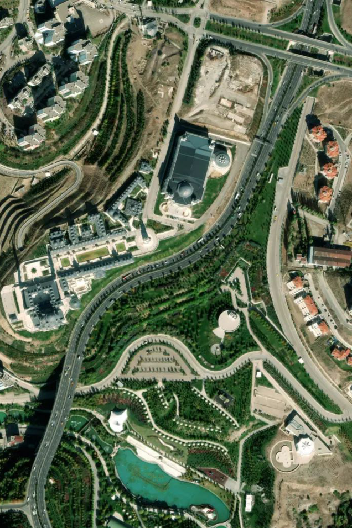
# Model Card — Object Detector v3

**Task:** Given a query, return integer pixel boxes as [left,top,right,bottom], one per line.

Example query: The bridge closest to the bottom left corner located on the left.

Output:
[33,357,84,464]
